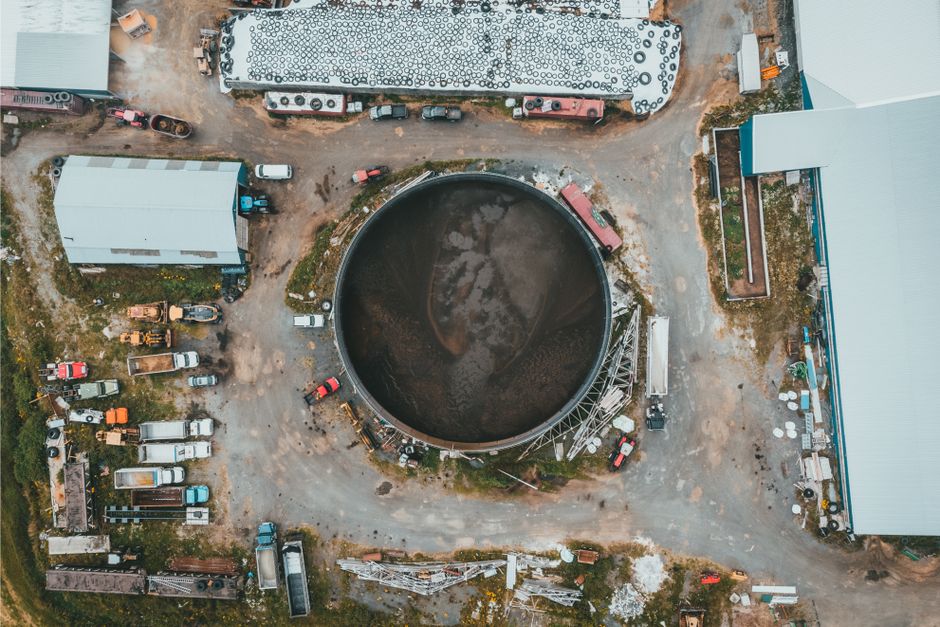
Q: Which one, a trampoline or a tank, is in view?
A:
tank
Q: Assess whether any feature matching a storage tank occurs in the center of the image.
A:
Yes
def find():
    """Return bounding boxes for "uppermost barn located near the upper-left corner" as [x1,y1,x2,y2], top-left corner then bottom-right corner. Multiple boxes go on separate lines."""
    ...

[0,0,137,97]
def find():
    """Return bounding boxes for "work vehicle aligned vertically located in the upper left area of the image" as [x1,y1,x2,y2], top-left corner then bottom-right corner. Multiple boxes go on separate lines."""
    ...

[196,28,218,78]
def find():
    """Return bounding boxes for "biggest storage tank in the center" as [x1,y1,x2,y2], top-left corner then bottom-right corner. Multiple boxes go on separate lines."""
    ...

[332,172,612,452]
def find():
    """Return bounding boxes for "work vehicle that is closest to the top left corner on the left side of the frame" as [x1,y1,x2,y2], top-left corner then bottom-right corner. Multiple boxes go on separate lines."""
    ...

[101,107,150,130]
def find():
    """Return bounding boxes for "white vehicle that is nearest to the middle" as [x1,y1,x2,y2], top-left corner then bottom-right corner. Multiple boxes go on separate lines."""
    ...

[293,313,326,328]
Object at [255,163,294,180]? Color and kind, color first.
white vehicle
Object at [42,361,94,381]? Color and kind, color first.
red vehicle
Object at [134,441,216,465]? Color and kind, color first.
white truck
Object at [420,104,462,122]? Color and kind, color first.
gray vehicle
